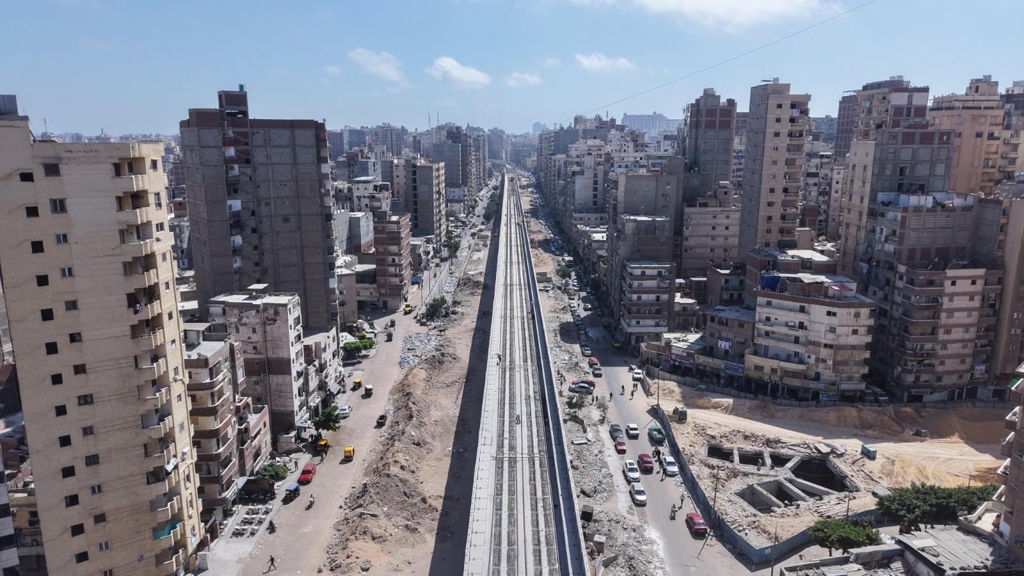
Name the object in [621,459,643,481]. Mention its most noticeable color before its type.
white car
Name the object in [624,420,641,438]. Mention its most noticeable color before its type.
white car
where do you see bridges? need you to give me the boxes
[463,161,591,576]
